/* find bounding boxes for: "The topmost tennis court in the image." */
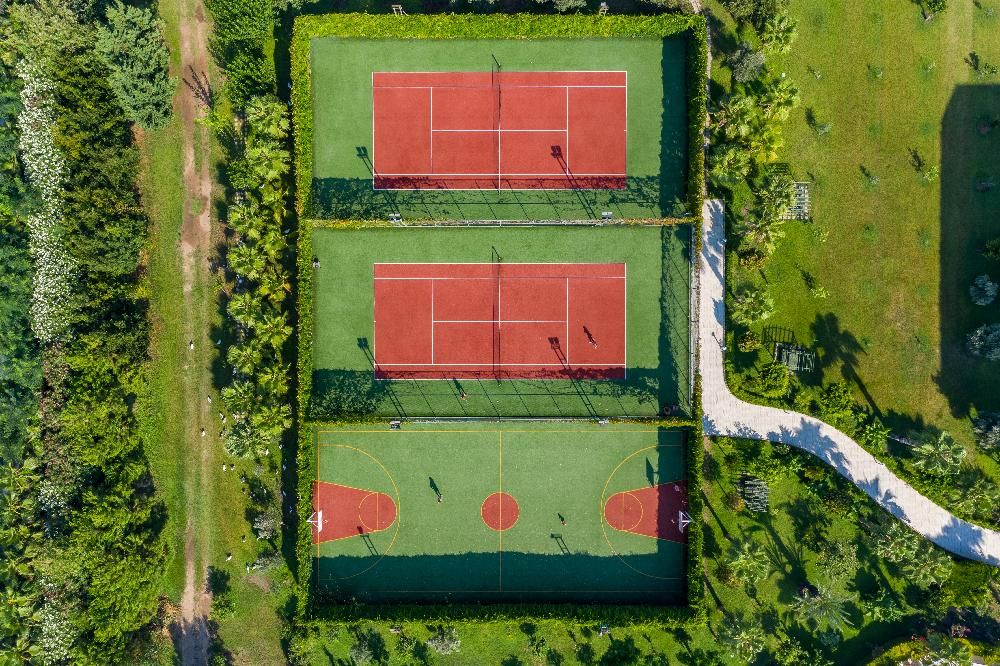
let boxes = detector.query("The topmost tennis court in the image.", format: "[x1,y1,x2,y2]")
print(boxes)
[311,38,689,226]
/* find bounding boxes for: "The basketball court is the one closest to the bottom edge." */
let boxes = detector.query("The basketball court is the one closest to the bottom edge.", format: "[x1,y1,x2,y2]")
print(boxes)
[311,419,689,606]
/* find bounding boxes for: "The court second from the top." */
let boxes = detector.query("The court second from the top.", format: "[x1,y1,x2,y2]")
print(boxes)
[311,226,692,419]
